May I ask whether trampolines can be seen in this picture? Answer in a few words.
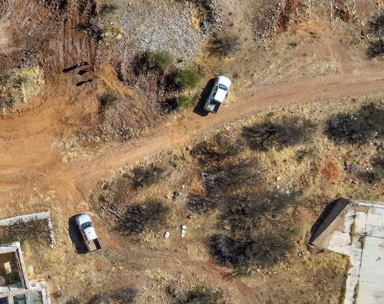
No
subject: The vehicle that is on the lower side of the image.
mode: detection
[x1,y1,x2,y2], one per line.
[74,211,103,254]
